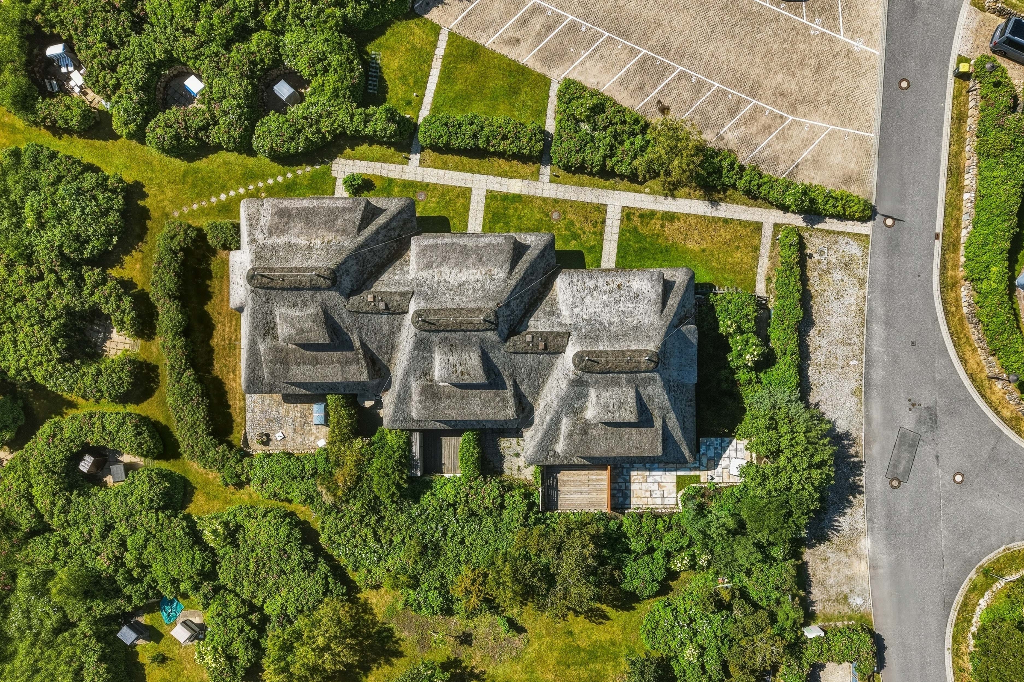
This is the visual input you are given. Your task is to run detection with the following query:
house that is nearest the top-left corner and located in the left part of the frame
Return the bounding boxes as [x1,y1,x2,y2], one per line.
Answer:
[230,198,421,394]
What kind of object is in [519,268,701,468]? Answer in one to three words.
house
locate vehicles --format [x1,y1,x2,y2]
[991,18,1024,59]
